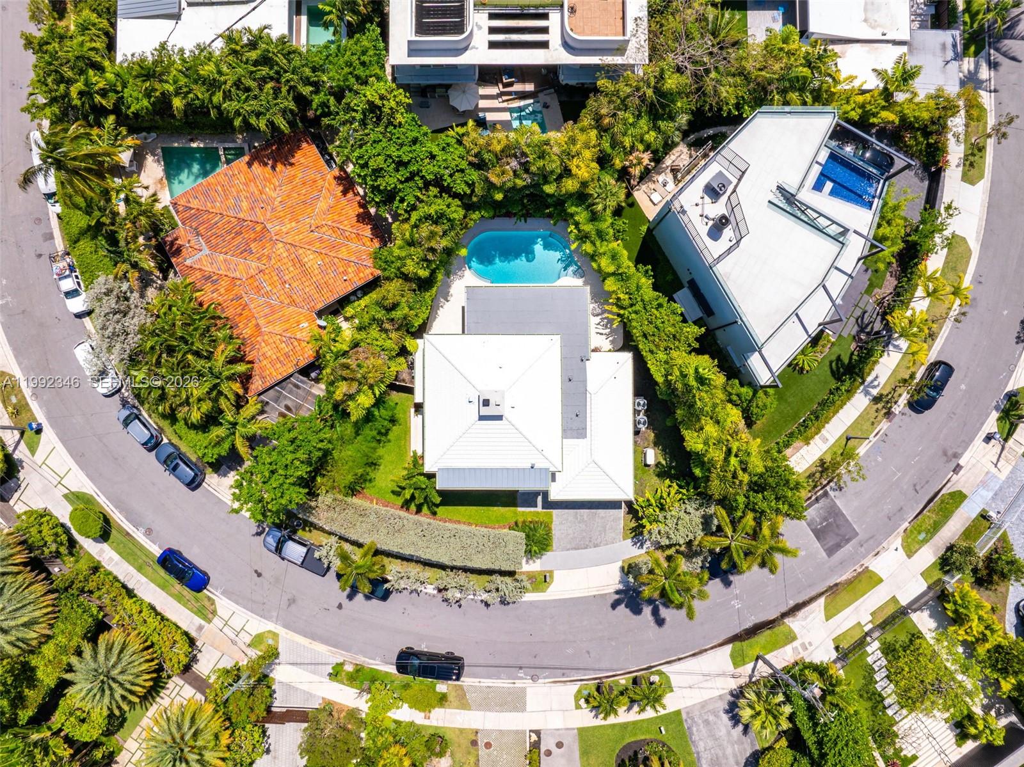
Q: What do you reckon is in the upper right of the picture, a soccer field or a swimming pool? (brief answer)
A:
swimming pool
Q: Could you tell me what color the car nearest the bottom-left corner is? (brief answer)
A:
blue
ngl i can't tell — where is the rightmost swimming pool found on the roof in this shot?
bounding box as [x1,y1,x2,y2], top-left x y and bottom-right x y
[812,159,872,208]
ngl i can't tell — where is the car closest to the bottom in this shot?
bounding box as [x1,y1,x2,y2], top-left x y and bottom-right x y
[395,643,467,685]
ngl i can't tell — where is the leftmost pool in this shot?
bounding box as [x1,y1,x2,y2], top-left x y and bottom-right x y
[158,143,227,203]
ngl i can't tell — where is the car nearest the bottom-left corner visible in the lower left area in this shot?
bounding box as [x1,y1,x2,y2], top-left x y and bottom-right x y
[156,542,213,593]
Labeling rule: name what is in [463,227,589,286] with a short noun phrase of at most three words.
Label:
swimming pool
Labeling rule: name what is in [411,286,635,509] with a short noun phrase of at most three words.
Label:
house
